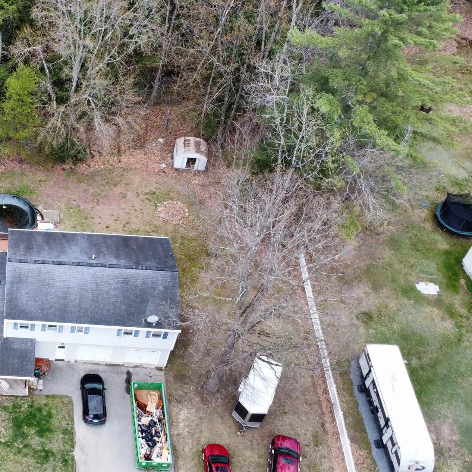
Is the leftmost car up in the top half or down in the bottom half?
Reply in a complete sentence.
The leftmost car sits in the bottom half of the picture.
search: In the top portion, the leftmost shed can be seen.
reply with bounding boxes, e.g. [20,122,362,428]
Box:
[171,130,210,170]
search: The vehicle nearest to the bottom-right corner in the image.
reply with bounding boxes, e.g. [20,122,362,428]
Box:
[350,344,437,472]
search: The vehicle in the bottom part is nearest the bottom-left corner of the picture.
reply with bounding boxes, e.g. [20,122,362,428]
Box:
[78,372,110,429]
